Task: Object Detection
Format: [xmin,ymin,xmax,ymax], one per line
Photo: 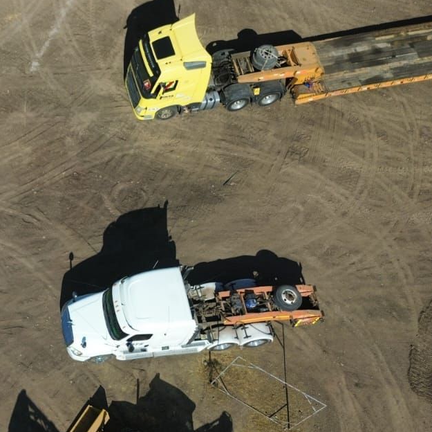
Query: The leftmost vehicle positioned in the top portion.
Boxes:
[121,18,286,120]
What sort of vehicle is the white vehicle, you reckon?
truck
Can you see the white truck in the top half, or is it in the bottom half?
bottom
